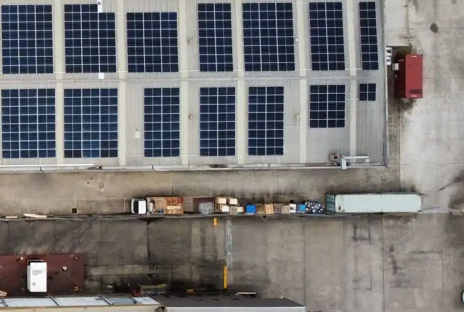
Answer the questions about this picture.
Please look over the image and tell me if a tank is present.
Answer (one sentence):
No, the scene contains no tank.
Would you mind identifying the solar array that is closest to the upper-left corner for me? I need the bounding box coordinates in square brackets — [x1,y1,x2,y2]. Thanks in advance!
[1,3,54,74]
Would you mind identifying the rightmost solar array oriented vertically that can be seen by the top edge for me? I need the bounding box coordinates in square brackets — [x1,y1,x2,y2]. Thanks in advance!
[359,0,380,70]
